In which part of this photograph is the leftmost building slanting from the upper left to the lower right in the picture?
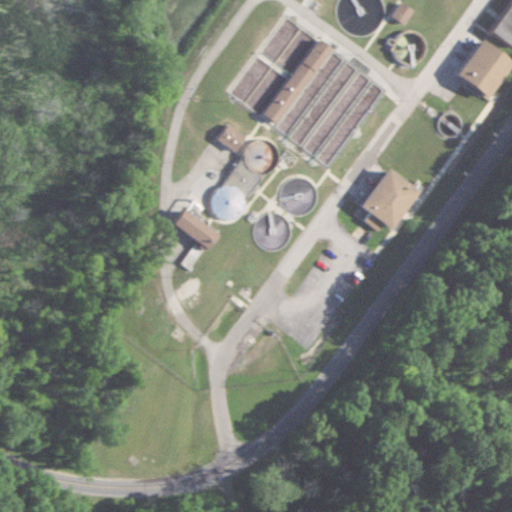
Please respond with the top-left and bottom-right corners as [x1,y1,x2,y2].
[177,211,220,250]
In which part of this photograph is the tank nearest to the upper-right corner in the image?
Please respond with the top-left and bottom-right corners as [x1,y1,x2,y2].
[388,30,427,68]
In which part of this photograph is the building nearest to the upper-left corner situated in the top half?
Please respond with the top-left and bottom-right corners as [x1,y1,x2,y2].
[218,125,246,153]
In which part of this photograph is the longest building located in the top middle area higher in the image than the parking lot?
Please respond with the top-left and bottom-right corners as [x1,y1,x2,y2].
[266,42,332,122]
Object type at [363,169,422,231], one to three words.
building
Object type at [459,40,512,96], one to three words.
building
